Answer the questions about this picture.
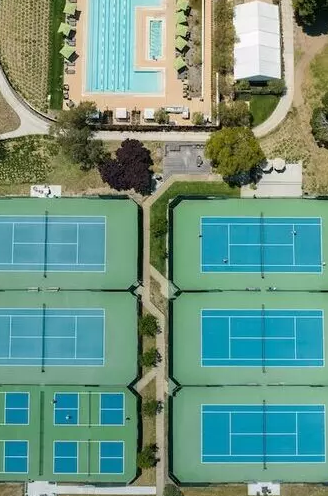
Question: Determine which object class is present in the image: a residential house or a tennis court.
tennis court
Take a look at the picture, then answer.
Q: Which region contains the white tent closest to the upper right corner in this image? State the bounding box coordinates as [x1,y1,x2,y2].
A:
[231,0,281,84]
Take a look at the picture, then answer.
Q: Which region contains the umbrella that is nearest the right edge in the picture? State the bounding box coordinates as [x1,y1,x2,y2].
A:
[273,158,286,172]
